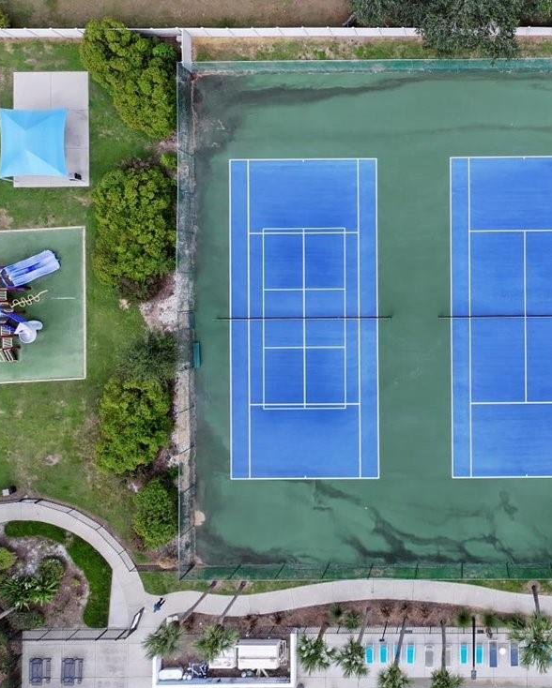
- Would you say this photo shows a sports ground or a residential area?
sports ground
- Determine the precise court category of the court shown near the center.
tennis court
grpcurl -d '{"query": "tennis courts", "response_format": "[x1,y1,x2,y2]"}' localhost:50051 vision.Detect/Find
[194,73,418,566]
[415,73,552,565]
